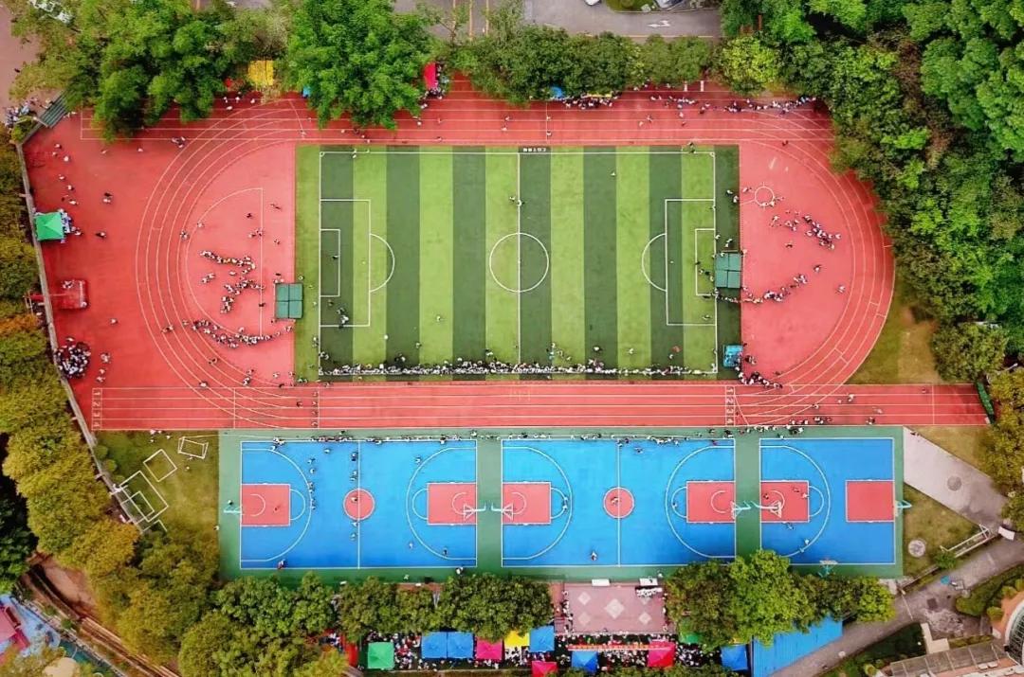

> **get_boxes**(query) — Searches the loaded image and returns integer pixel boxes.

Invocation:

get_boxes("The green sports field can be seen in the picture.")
[294,144,741,382]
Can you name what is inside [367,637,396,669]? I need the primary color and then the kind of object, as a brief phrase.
green tent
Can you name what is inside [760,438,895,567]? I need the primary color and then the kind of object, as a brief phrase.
blue basketball court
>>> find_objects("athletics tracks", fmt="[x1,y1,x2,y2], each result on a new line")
[29,68,987,431]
